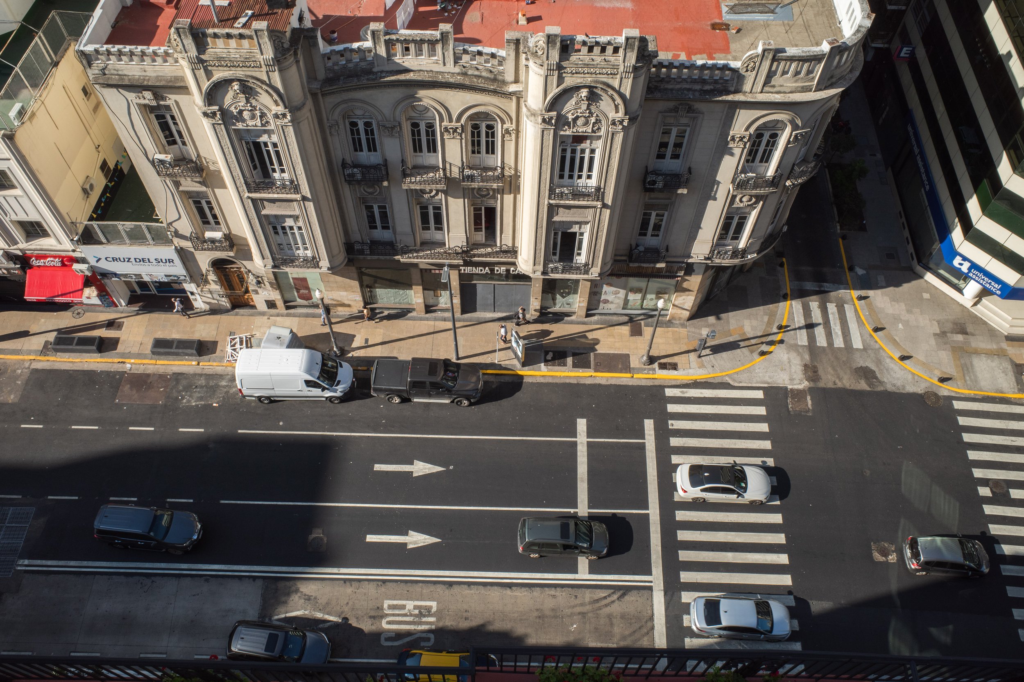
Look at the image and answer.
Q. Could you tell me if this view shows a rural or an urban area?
urban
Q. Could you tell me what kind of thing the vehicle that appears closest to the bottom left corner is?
automobile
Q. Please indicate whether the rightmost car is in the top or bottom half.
bottom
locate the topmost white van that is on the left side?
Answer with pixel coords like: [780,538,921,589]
[232,348,357,403]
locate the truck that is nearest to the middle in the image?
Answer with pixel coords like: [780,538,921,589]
[371,354,485,404]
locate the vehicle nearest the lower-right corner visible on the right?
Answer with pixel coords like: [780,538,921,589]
[898,535,991,581]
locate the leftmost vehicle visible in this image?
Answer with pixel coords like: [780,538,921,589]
[90,506,206,556]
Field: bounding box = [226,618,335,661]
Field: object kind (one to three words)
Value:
car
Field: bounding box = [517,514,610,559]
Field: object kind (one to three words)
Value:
car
